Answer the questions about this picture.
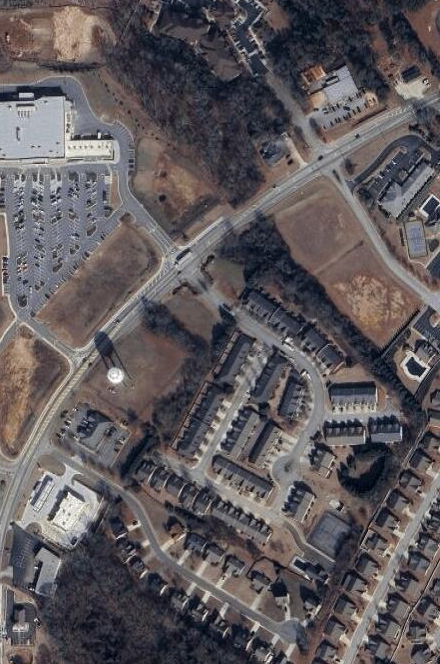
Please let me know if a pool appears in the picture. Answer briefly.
Yes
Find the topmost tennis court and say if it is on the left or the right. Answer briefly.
right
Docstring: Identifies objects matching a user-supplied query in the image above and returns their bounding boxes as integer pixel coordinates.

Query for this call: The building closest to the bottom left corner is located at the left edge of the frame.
[11,611,30,642]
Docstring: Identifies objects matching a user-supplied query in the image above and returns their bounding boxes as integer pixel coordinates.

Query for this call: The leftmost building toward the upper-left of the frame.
[0,96,65,167]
